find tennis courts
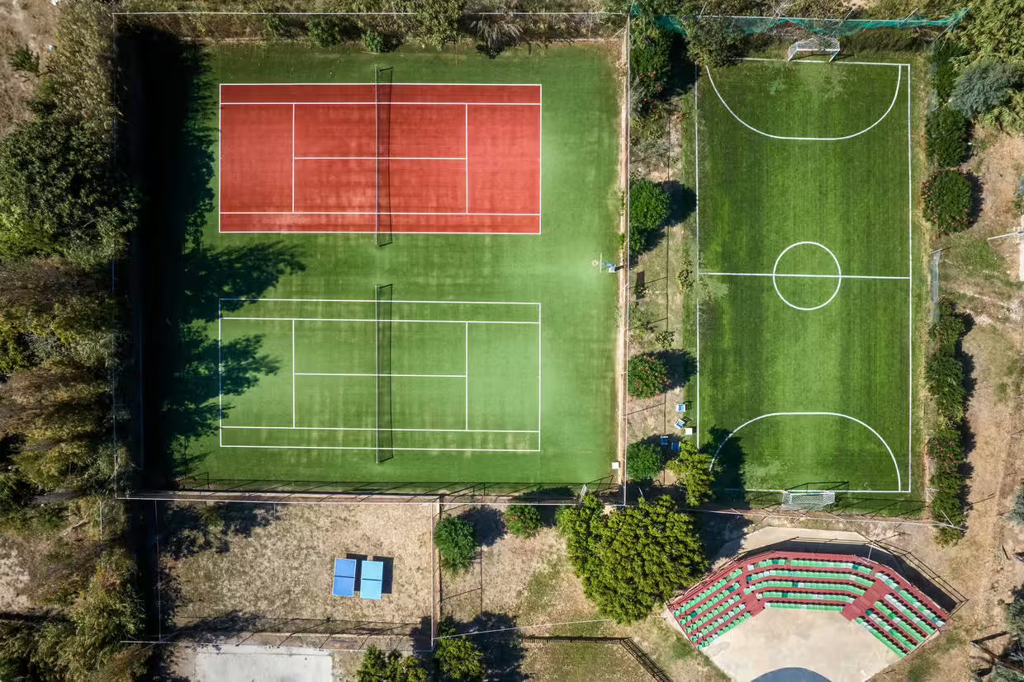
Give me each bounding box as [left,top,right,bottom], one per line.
[218,298,543,452]
[219,83,542,233]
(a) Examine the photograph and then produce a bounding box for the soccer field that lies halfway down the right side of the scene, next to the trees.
[682,46,927,518]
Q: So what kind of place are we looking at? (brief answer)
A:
sports ground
